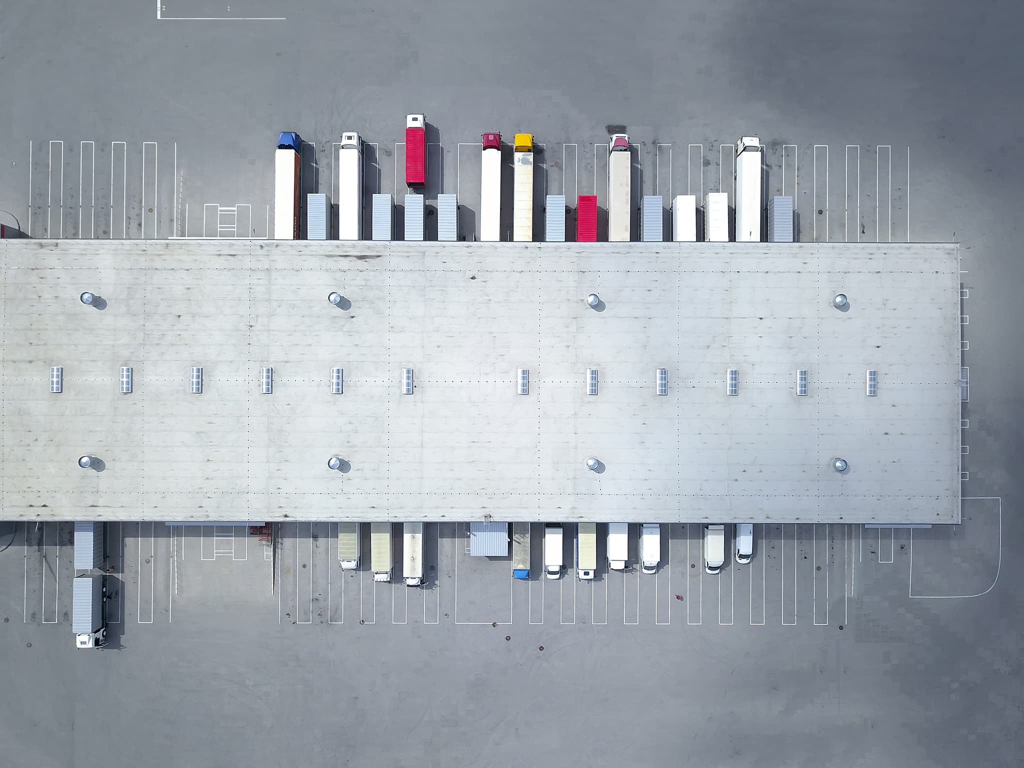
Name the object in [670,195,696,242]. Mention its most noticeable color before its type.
white shipping container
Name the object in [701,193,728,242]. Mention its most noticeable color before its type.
white shipping container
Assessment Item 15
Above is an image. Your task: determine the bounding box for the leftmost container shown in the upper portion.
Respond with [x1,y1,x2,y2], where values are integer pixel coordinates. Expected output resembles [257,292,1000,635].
[307,194,334,240]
